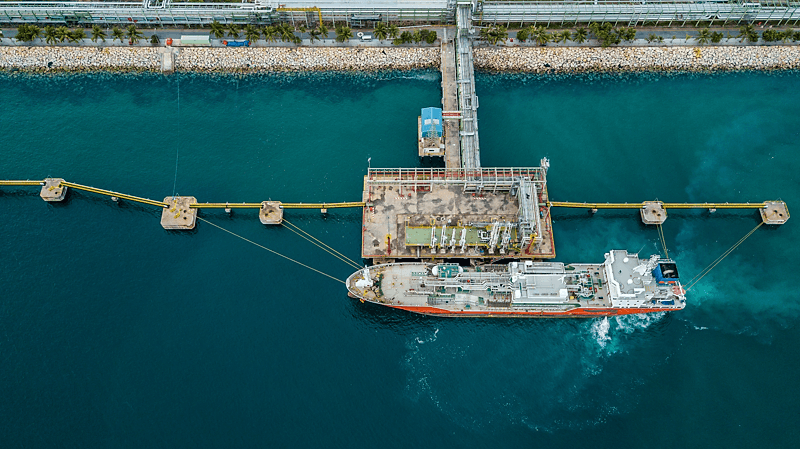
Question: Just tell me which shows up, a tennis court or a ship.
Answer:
ship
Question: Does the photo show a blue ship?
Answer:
No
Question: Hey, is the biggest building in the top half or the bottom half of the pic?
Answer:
top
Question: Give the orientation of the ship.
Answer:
horizontally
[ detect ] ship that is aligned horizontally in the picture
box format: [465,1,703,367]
[346,229,687,316]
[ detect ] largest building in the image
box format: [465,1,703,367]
[417,106,444,166]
